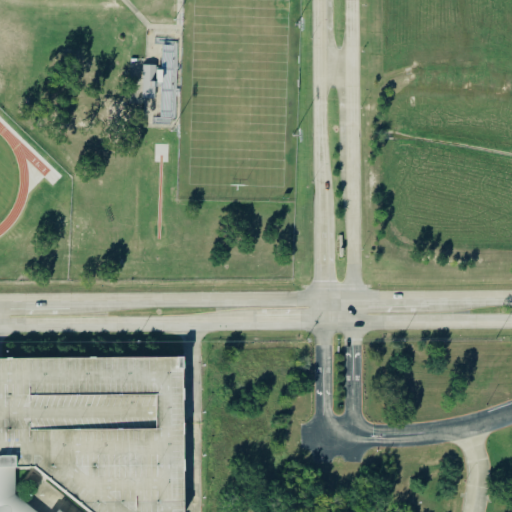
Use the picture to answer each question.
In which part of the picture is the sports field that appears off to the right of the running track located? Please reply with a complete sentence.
The sports field that appears off to the right of the running track is located in the top region of the scene.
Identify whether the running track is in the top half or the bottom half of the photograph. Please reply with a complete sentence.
The running track sits in the top half of the picture.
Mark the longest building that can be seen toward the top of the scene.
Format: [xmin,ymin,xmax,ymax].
[143,64,156,101]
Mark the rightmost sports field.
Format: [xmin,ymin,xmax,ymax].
[184,0,294,192]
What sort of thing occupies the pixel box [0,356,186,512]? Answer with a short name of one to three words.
building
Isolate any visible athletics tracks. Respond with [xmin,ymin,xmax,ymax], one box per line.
[0,118,67,234]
